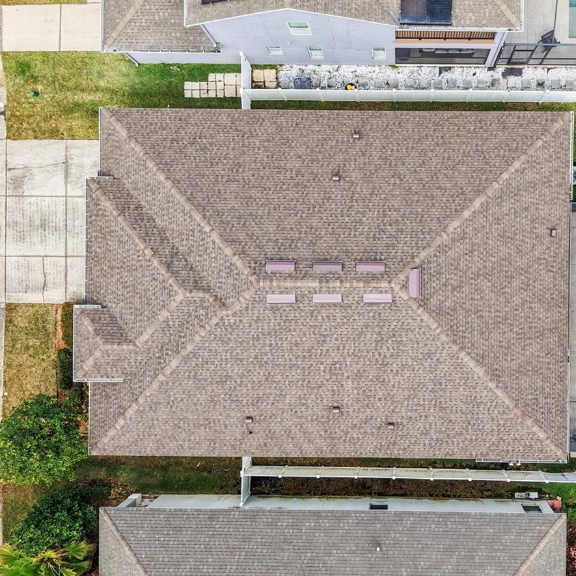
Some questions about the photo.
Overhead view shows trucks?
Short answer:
No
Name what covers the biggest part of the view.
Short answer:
buildings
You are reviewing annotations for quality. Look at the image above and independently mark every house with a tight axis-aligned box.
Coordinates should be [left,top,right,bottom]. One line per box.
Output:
[100,0,526,73]
[98,489,568,576]
[71,106,575,464]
